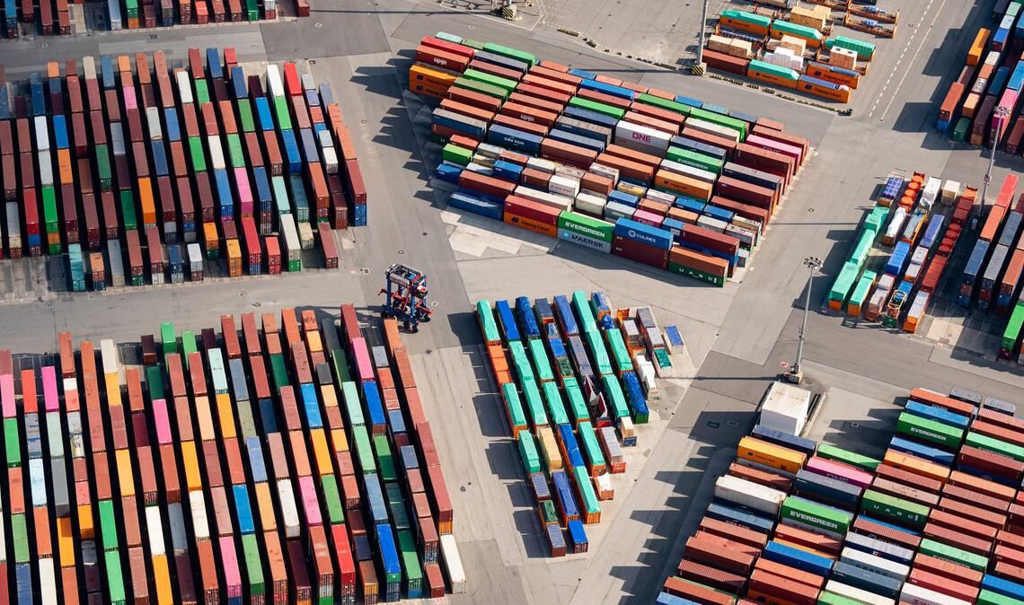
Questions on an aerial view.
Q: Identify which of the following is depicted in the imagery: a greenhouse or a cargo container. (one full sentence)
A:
Of the two, only a cargo container appears.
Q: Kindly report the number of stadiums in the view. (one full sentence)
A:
Not a single stadium can be seen.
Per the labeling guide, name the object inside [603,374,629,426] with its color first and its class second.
green shipping container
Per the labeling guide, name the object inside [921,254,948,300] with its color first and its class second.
red shipping container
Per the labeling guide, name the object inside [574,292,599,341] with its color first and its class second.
green shipping container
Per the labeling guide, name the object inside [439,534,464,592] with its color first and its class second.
white shipping container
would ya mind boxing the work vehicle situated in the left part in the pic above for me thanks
[379,265,435,332]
